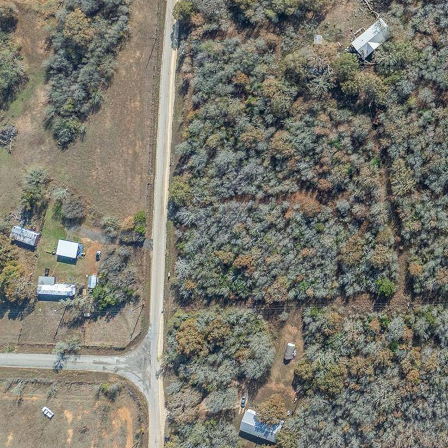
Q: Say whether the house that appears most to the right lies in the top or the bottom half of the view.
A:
top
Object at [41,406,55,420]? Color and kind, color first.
white vehicle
